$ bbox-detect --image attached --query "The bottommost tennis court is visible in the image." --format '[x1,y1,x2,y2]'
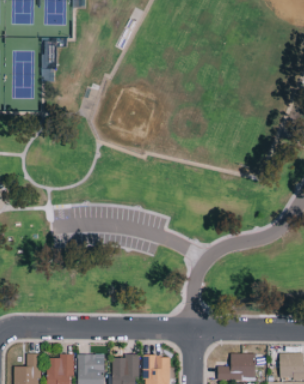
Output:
[12,51,34,99]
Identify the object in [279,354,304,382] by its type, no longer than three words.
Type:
house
